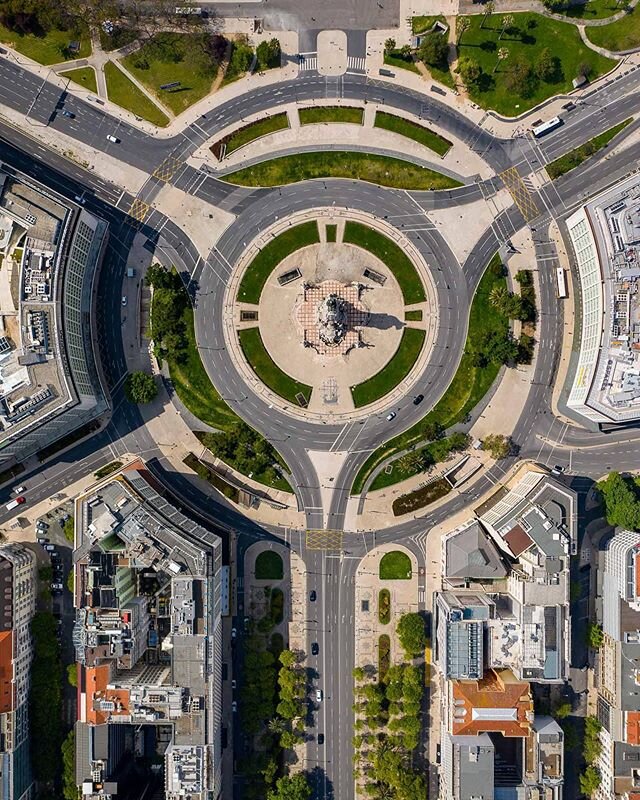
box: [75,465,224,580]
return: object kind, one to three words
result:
building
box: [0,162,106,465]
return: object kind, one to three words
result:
building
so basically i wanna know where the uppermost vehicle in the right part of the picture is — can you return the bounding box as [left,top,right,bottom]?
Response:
[534,115,563,134]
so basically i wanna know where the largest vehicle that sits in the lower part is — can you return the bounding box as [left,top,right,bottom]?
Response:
[1,496,23,511]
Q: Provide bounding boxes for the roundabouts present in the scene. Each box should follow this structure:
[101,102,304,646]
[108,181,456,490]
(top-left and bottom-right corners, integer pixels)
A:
[194,179,468,452]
